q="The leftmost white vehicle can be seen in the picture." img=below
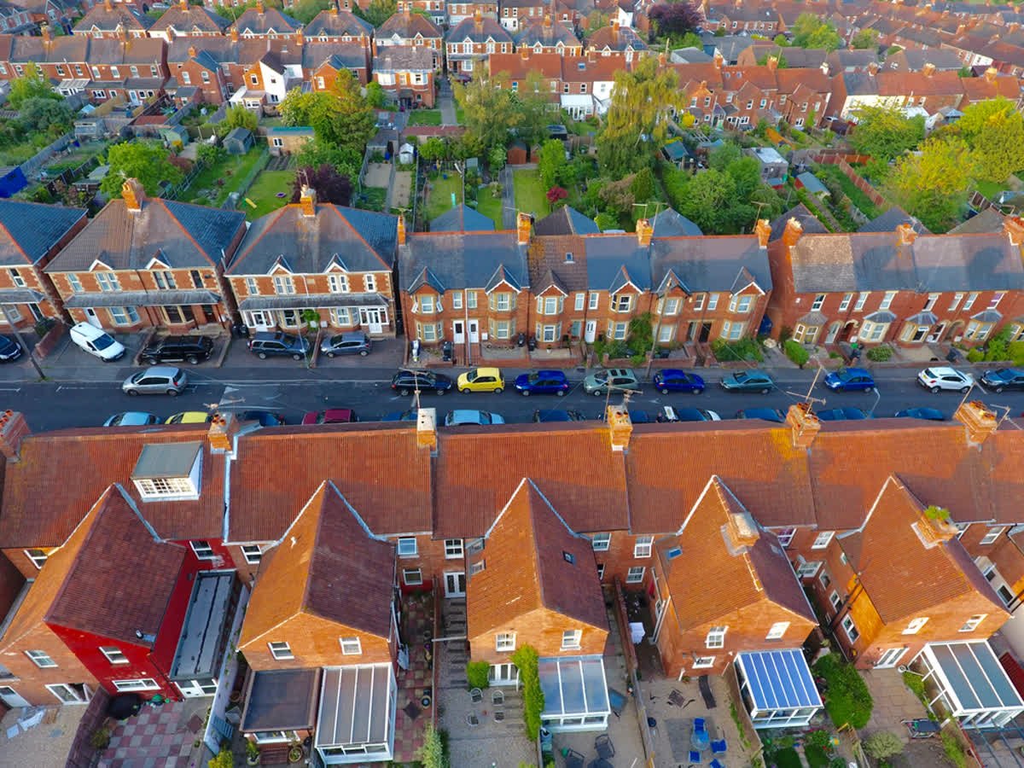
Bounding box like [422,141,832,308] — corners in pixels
[64,317,120,359]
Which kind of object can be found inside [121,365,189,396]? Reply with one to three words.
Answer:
car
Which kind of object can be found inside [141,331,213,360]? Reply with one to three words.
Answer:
car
